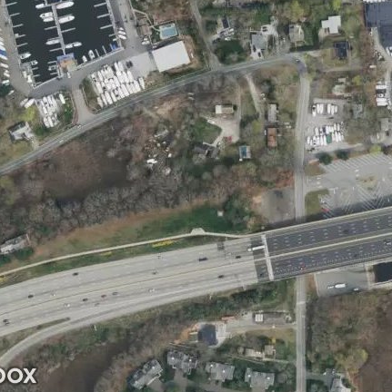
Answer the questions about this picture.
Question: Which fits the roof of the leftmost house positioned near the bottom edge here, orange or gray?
gray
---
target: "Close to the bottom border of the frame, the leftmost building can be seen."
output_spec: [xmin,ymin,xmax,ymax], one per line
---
[131,360,163,390]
